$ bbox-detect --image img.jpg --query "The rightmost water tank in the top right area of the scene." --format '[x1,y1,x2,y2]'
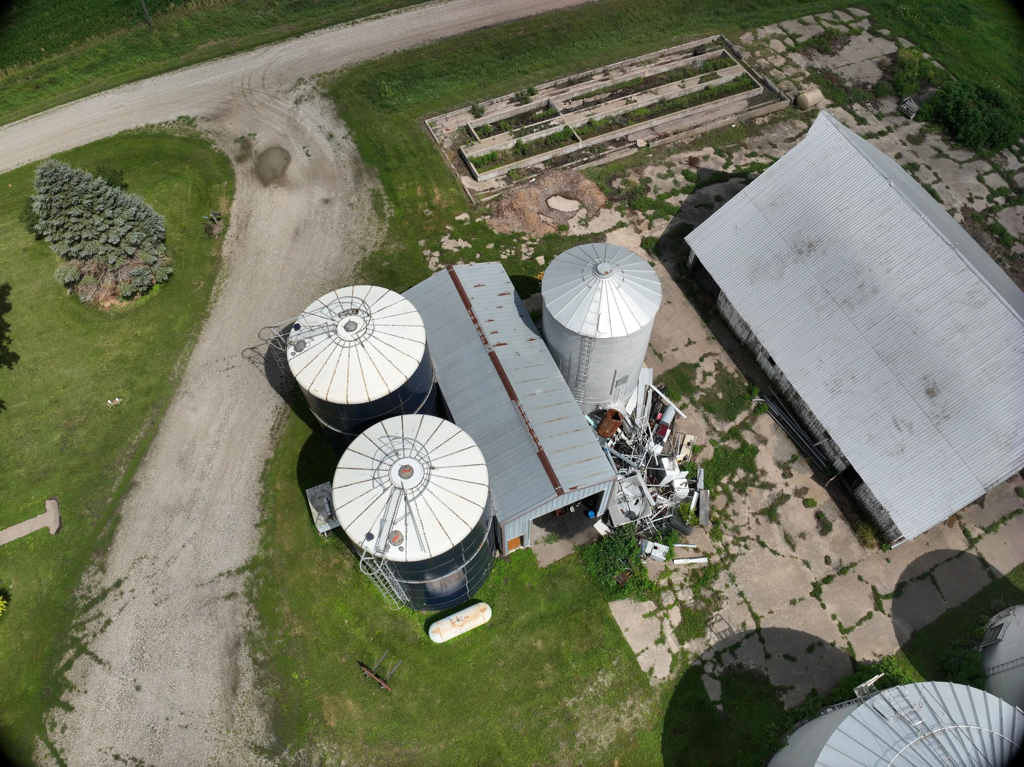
[792,84,825,109]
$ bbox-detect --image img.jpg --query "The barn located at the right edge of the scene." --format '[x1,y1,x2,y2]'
[683,99,1024,551]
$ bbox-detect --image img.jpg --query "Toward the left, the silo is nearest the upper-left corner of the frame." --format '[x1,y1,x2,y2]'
[255,286,442,462]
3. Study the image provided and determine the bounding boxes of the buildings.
[683,99,1024,551]
[399,259,621,559]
